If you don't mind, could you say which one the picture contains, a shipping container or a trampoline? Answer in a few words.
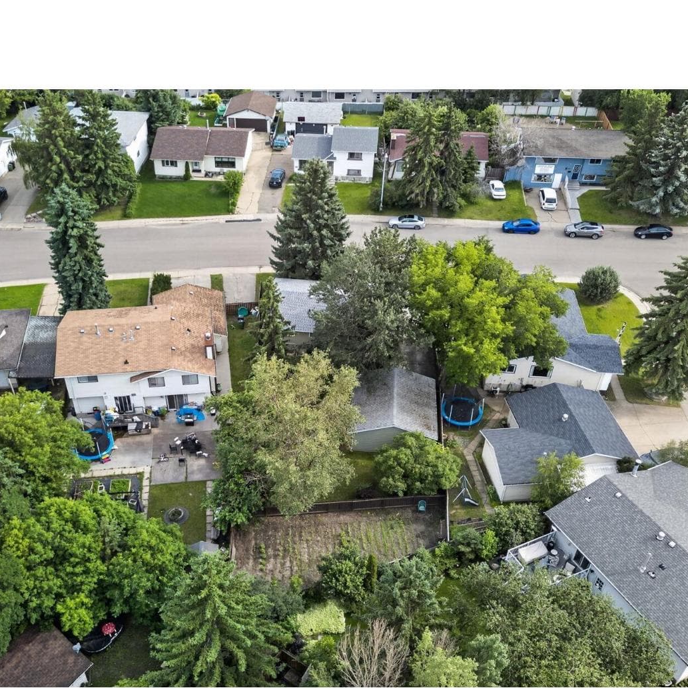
trampoline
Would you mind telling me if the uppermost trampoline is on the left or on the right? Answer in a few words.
right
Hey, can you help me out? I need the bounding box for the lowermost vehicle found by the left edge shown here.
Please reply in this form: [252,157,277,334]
[33,376,54,388]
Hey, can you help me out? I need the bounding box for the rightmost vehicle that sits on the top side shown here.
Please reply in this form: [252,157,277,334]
[634,224,677,240]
